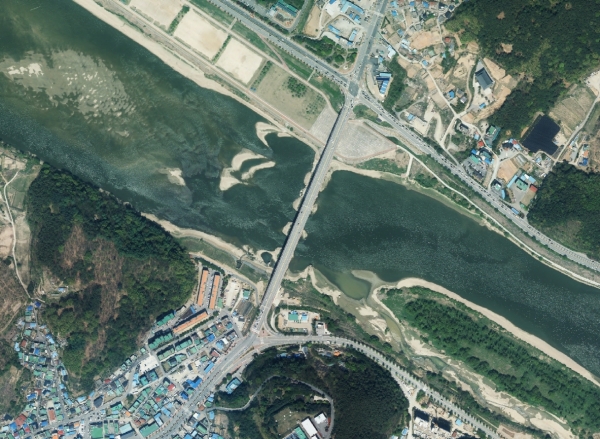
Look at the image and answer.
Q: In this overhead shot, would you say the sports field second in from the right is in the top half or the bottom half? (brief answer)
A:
top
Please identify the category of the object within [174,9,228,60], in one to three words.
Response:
sports field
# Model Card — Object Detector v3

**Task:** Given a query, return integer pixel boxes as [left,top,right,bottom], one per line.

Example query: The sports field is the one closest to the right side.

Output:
[217,38,263,83]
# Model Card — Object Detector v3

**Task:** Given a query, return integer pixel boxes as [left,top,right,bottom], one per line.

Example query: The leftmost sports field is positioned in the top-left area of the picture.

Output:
[129,0,184,30]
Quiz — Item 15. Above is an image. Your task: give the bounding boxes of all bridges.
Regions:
[254,89,359,329]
